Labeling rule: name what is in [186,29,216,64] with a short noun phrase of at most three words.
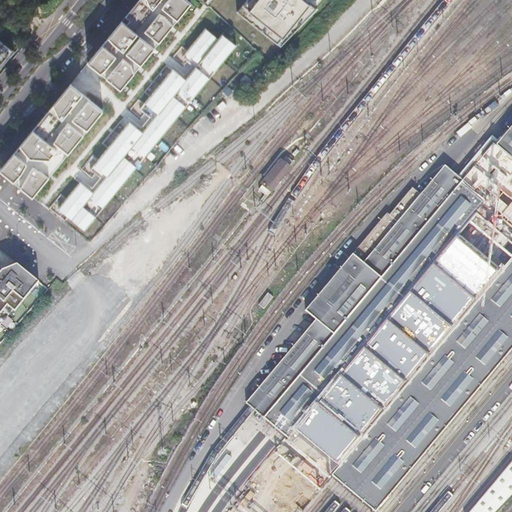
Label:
building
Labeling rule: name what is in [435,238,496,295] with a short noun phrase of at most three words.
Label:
building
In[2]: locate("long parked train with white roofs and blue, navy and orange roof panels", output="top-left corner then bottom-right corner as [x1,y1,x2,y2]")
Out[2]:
[292,0,452,196]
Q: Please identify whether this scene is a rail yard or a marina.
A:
rail yard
